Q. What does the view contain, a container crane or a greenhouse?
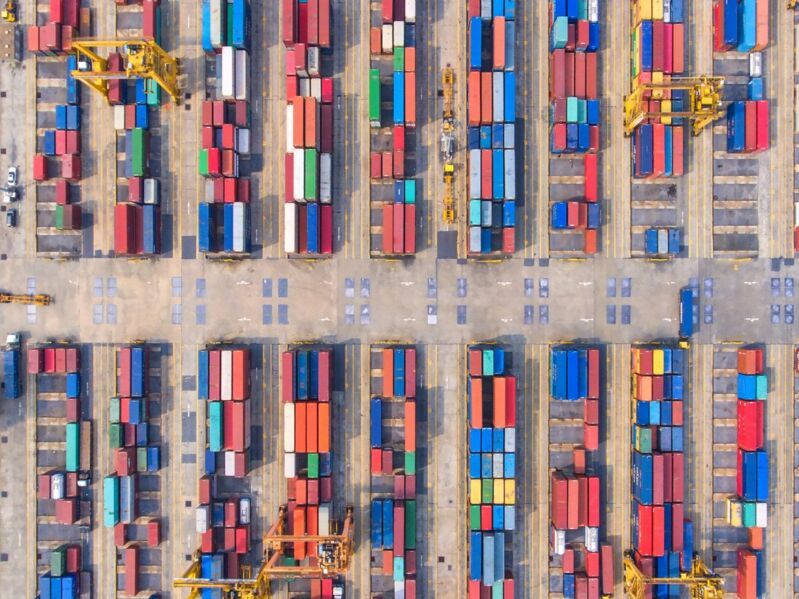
container crane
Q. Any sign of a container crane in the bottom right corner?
Yes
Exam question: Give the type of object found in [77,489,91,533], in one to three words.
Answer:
vehicle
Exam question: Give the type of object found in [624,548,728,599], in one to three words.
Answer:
container crane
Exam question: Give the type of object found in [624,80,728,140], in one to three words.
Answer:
container crane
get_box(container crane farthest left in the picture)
[77,39,181,103]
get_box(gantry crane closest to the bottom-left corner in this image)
[175,549,271,599]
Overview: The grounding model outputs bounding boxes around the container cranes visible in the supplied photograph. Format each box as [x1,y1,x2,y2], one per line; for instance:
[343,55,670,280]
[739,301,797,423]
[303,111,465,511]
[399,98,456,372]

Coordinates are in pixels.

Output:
[265,510,353,575]
[175,549,271,599]
[624,548,728,599]
[77,39,181,103]
[624,80,728,140]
